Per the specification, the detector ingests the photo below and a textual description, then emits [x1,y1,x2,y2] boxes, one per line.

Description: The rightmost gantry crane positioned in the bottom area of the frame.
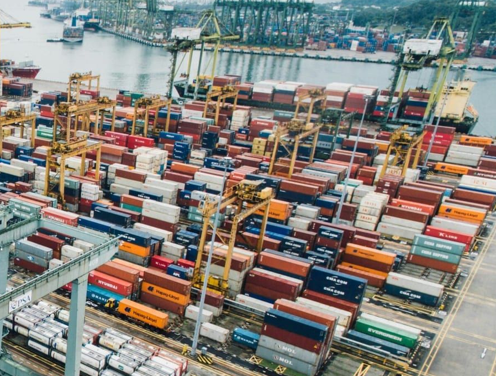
[192,190,280,301]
